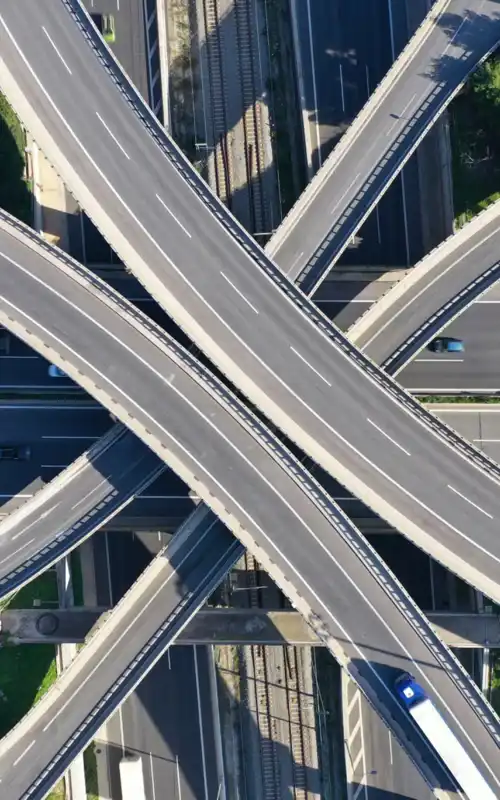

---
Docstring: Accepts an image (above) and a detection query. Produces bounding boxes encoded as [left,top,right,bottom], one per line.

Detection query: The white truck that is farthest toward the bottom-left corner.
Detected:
[120,755,147,800]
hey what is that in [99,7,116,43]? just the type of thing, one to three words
vehicle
